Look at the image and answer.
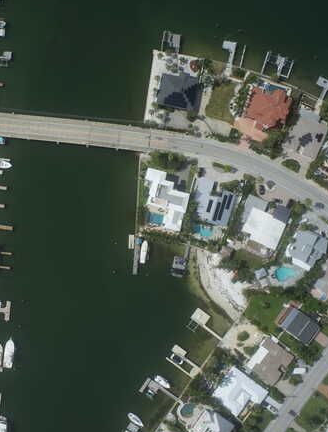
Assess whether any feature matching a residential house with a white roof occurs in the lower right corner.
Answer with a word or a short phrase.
Yes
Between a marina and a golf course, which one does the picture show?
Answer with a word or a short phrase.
marina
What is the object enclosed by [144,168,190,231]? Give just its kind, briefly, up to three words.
house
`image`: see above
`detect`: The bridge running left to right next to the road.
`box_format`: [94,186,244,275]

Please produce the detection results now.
[0,111,153,152]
